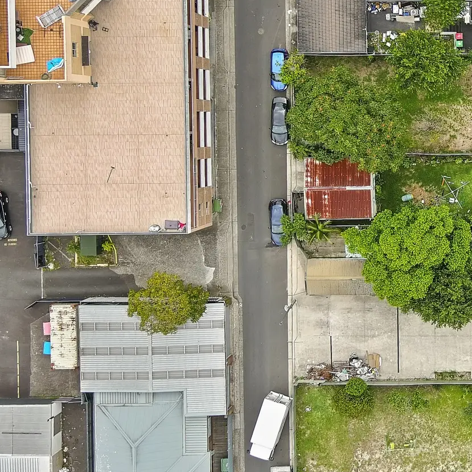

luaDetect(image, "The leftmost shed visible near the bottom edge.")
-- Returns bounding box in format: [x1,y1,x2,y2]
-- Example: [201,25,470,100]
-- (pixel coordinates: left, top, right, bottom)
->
[0,397,66,472]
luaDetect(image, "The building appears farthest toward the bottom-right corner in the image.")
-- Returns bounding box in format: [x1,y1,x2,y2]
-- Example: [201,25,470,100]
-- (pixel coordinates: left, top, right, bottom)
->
[304,257,379,297]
